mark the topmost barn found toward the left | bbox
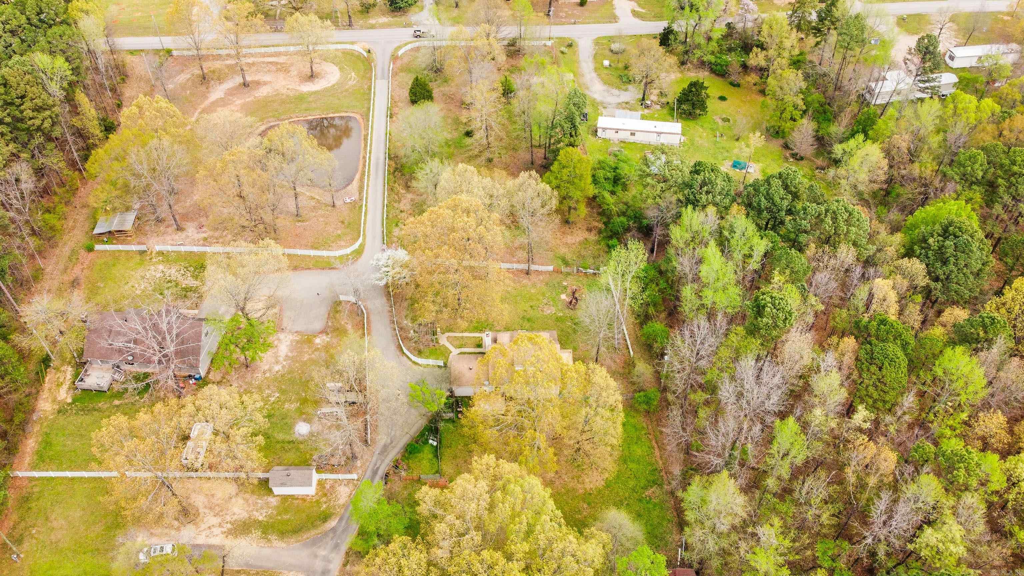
[93,210,146,242]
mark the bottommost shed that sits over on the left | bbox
[268,465,318,494]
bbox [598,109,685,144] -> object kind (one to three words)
house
